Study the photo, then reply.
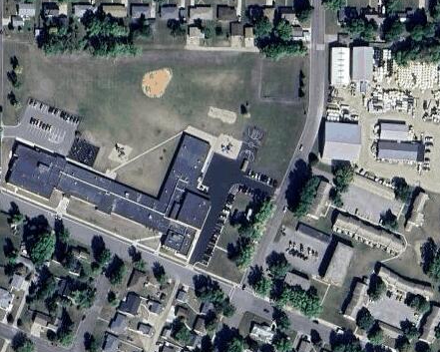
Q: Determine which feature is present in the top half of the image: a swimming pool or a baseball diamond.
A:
baseball diamond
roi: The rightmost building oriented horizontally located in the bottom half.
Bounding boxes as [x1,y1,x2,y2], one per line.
[404,278,436,298]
